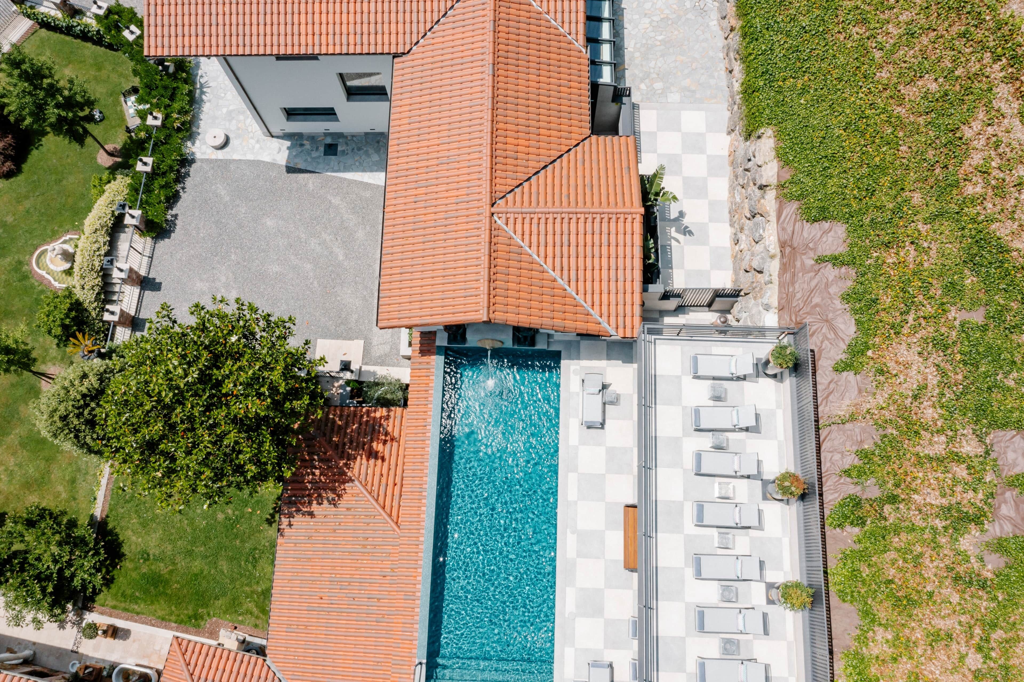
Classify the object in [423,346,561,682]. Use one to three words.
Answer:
swimming pool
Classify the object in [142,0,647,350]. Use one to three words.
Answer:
house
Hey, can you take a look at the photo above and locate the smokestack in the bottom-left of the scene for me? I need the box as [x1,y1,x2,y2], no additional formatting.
[219,622,254,649]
